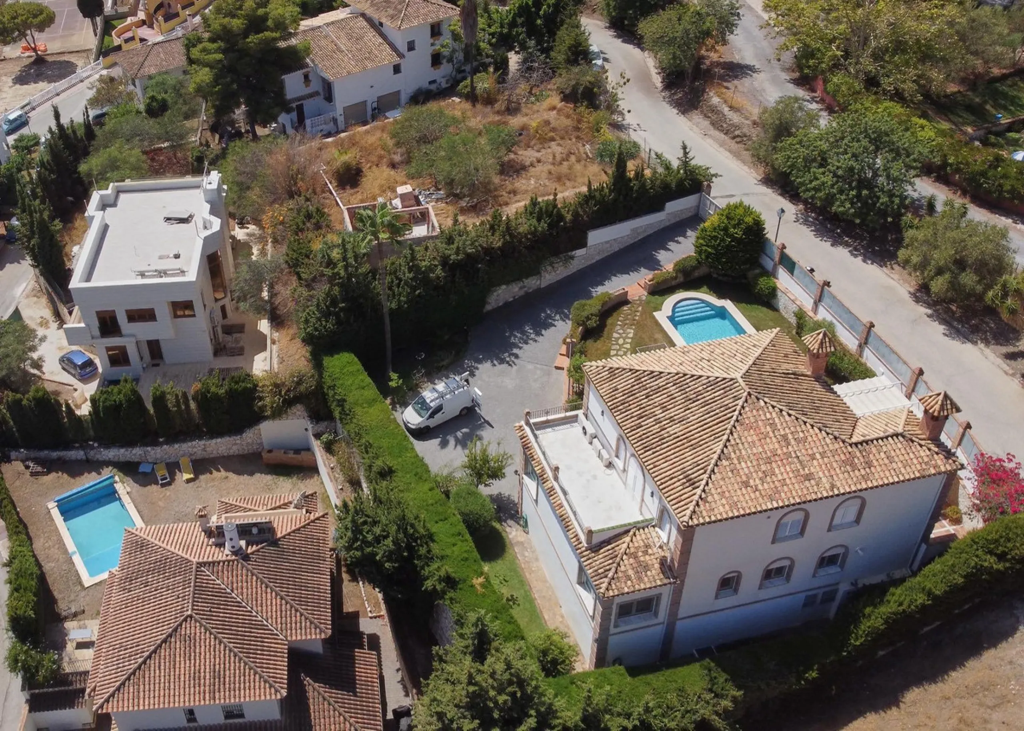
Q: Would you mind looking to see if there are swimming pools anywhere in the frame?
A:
Yes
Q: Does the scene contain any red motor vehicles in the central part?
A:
No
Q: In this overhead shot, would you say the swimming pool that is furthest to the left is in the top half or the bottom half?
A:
bottom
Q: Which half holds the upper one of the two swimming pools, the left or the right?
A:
right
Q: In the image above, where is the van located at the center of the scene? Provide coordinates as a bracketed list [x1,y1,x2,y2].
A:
[396,363,490,432]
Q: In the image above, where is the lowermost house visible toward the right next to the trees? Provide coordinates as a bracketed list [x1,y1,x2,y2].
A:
[515,328,965,669]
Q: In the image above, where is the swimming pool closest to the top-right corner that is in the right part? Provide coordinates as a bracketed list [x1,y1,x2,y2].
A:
[654,291,757,346]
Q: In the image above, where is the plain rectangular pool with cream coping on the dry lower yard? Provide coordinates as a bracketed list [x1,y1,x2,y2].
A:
[47,475,144,587]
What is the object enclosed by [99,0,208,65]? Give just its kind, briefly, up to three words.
house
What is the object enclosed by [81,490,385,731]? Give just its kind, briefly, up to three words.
house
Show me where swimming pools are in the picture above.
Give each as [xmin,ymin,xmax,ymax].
[654,291,757,346]
[47,475,144,587]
